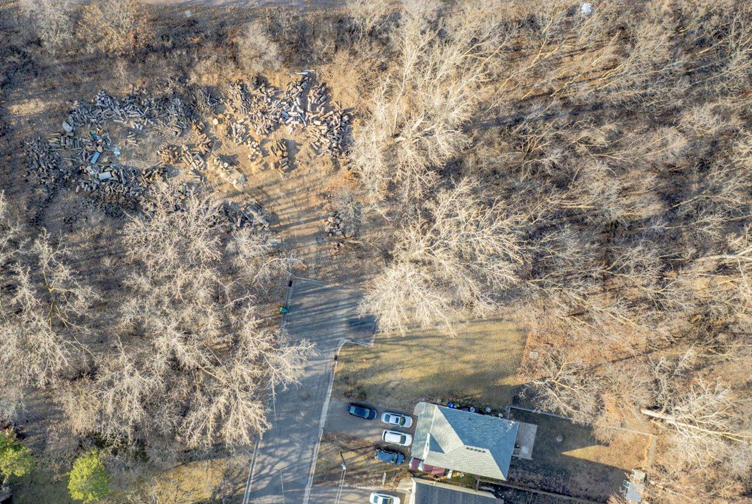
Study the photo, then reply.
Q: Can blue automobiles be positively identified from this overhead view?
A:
Yes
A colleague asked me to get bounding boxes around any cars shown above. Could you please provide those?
[381,430,412,447]
[369,493,398,504]
[374,448,405,466]
[346,403,378,421]
[380,412,413,429]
